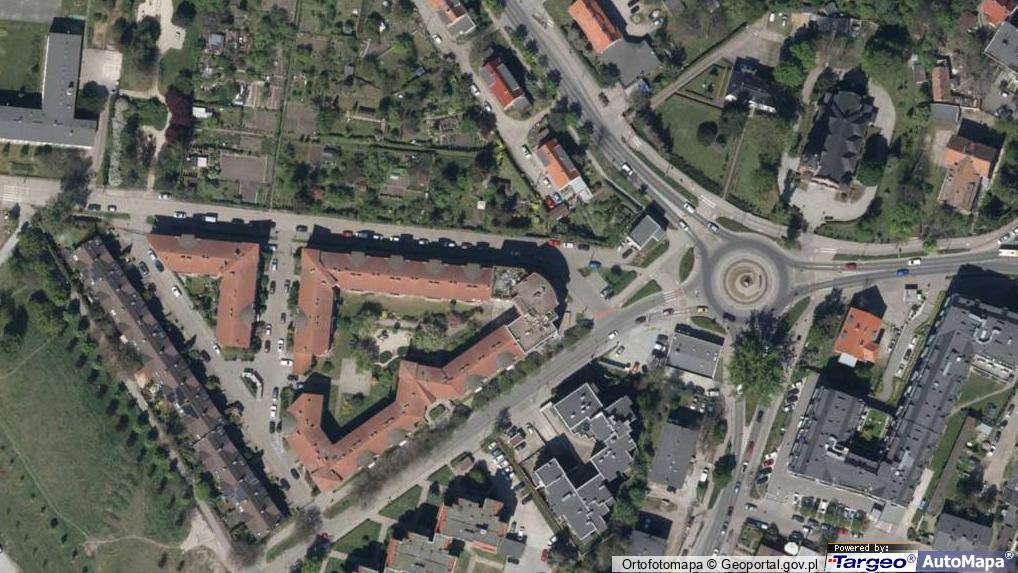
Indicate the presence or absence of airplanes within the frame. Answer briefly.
No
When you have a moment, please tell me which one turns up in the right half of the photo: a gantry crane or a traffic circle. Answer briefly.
traffic circle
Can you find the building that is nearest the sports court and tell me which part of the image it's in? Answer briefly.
top left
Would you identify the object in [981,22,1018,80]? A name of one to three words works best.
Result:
building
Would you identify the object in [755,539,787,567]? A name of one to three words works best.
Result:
house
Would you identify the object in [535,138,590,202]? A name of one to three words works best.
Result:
house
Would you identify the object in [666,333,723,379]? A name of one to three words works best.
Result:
building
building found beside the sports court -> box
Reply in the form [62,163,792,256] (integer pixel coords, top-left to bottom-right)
[0,33,97,149]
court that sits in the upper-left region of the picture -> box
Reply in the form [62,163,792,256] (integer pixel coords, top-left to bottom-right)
[80,49,122,92]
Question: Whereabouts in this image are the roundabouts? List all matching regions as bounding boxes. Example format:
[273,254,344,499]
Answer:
[698,233,794,330]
